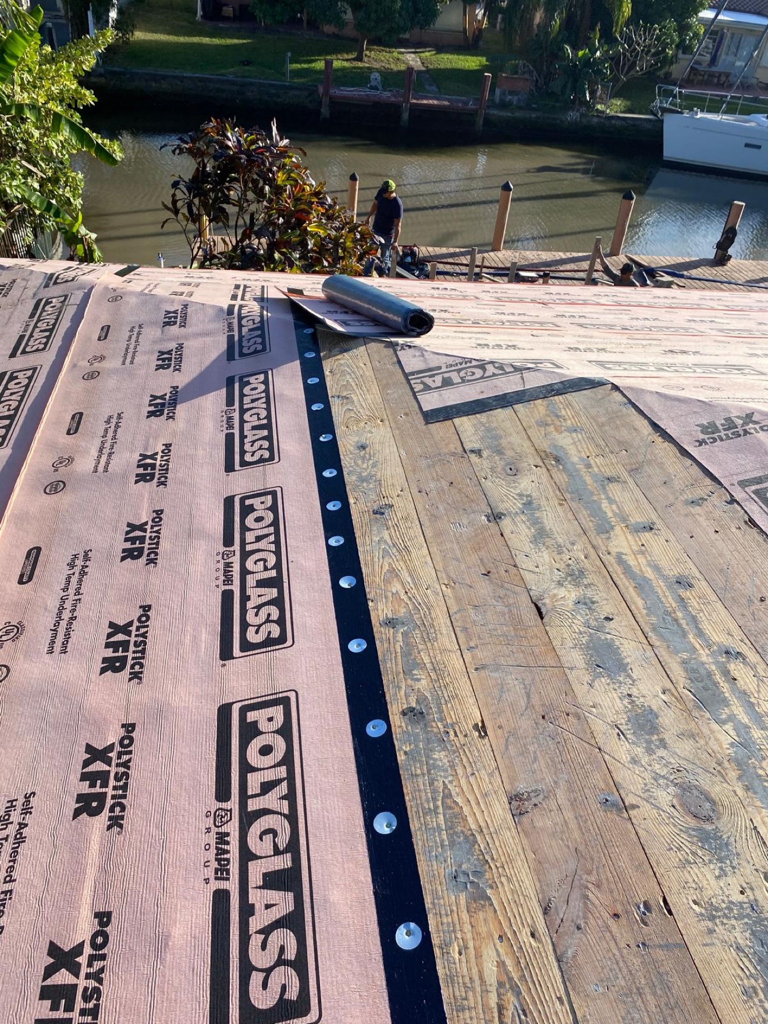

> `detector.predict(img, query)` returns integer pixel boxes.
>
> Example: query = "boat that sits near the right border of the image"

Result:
[641,0,768,175]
